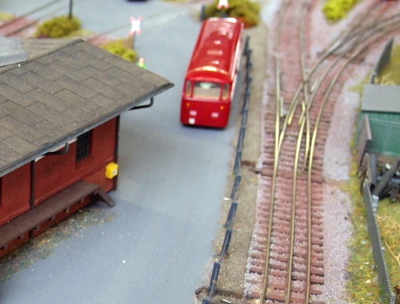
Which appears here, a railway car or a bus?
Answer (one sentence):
Visible in the photo is a bus.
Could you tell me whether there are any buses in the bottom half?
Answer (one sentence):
No, no bus is visible in the bottom half.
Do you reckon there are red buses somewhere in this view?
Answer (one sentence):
Yes, a red bus can be made out from above.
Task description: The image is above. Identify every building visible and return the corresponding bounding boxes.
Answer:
[353,78,400,150]
[0,24,174,259]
